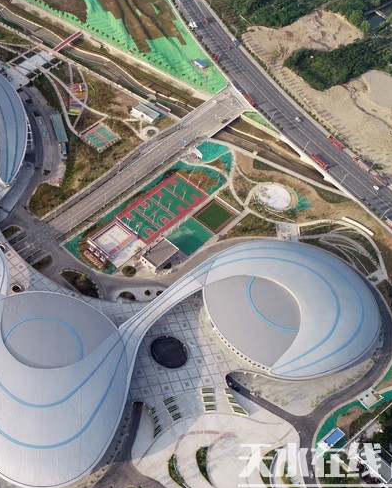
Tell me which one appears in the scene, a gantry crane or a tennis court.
tennis court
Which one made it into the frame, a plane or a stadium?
stadium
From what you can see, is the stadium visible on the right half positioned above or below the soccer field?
below it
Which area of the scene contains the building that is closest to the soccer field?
center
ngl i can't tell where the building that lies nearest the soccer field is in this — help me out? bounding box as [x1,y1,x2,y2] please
[141,238,180,272]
